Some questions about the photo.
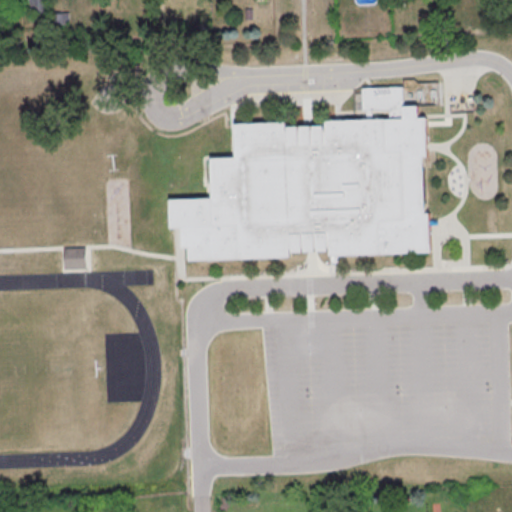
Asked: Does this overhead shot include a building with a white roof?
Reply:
Yes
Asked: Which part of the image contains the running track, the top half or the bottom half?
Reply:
bottom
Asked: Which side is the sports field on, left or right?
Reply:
left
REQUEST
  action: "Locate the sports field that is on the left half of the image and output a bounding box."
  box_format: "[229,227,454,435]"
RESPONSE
[0,320,97,419]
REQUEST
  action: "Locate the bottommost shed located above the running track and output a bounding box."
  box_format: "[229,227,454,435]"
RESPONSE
[63,248,86,270]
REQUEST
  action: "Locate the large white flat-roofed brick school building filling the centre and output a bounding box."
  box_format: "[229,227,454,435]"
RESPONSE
[168,86,438,263]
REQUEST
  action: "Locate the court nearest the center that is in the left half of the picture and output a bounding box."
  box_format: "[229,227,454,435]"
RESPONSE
[106,178,132,249]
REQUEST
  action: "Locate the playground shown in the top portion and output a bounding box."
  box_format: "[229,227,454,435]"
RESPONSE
[468,143,498,200]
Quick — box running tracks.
[0,270,162,469]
